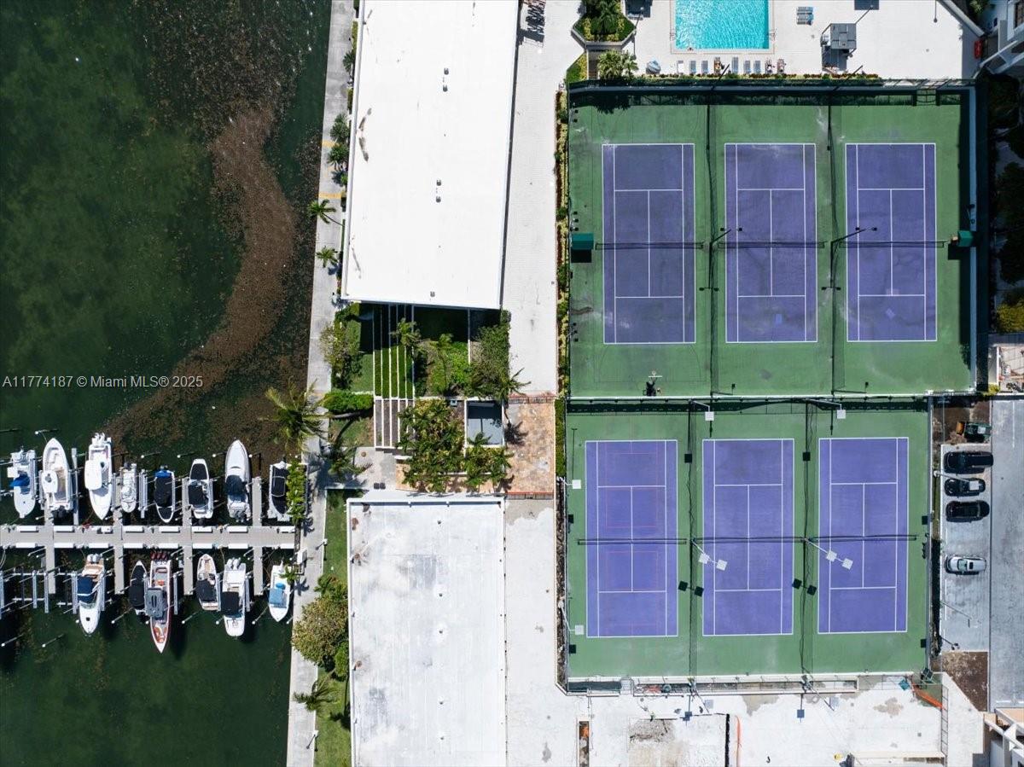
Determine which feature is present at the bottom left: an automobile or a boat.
boat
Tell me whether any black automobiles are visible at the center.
No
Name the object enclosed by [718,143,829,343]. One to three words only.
tennis court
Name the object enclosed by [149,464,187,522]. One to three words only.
boat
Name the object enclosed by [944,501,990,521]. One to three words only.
car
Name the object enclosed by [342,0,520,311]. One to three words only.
building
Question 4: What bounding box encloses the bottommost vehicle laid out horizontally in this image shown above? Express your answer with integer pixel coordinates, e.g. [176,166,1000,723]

[943,556,987,575]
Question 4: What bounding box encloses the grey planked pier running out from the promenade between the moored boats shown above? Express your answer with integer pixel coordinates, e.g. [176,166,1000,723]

[0,448,297,595]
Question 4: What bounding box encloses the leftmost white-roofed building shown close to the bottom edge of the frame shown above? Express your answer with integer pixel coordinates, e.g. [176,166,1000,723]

[348,489,507,767]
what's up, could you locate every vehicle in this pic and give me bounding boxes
[942,477,986,496]
[952,425,991,440]
[942,452,994,472]
[944,501,990,521]
[943,556,987,575]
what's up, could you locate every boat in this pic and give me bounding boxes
[85,439,128,520]
[149,464,187,522]
[75,556,119,635]
[193,553,226,612]
[4,449,42,518]
[261,462,293,516]
[128,561,151,620]
[264,557,300,623]
[182,459,225,524]
[145,553,186,654]
[39,438,85,520]
[219,561,258,638]
[222,440,262,522]
[114,462,149,512]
